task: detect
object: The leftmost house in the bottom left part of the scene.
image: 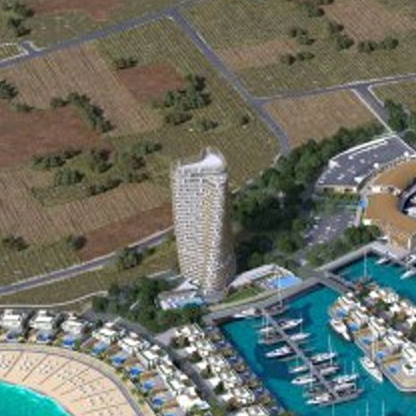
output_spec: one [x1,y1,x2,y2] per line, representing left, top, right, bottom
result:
[1,308,26,341]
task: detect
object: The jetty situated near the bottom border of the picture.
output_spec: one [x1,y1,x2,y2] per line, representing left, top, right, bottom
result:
[256,311,367,409]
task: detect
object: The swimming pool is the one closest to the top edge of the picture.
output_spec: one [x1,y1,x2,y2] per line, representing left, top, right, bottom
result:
[275,275,304,290]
